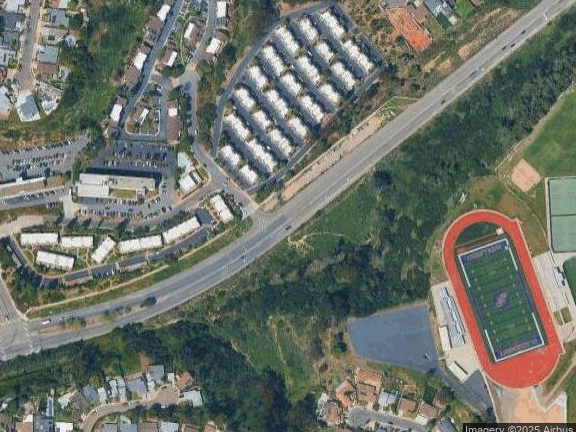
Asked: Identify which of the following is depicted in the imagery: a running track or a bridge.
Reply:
running track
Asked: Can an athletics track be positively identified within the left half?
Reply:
No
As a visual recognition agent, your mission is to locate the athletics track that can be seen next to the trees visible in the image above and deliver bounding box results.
[441,209,565,390]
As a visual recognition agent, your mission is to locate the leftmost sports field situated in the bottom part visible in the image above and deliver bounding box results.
[455,222,548,364]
